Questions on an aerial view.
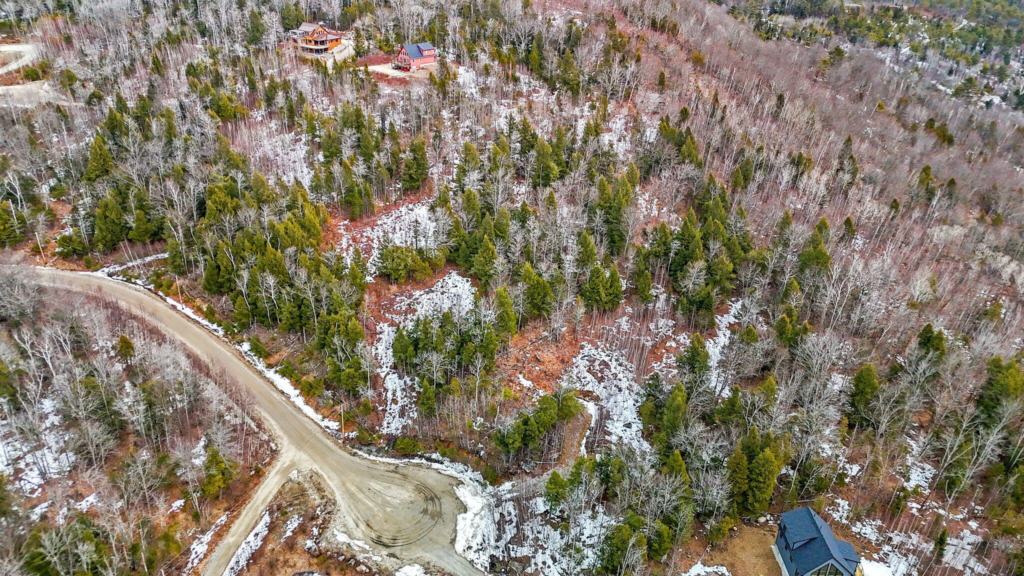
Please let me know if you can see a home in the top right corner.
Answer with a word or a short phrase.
No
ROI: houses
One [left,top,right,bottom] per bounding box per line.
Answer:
[393,40,434,70]
[774,503,864,576]
[287,22,342,52]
